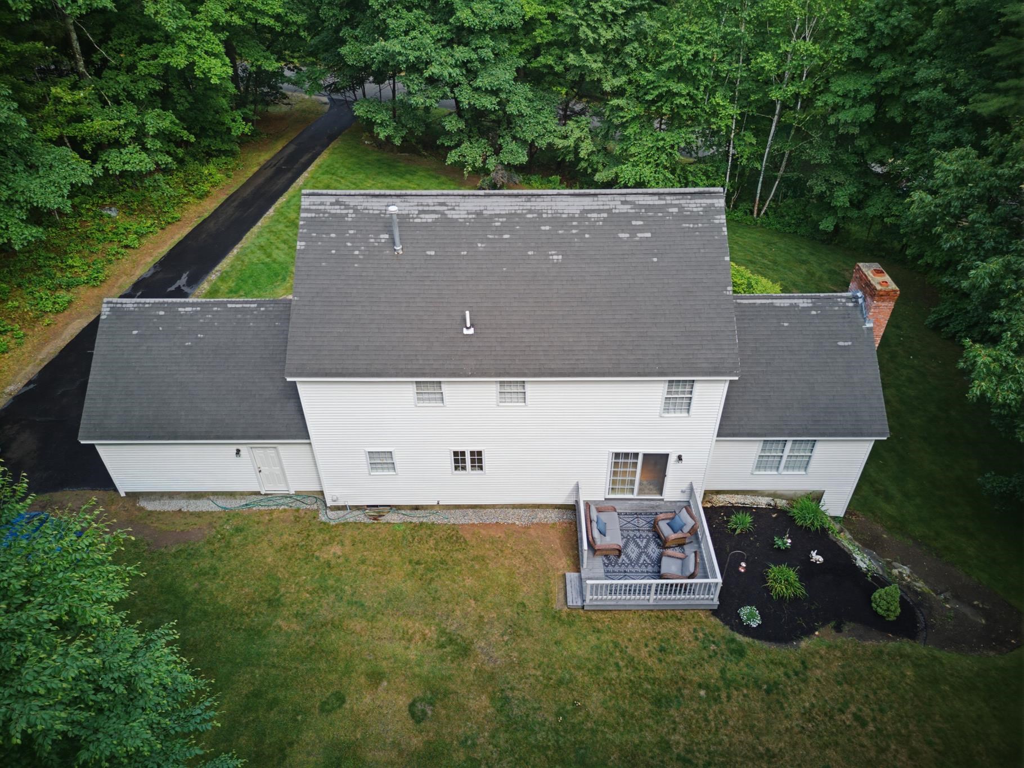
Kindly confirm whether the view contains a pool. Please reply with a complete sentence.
No, the picture doesn't show any pool.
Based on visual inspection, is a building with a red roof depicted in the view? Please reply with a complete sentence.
No, no building with a red roof is visible in the scene.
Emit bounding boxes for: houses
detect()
[78,185,900,515]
